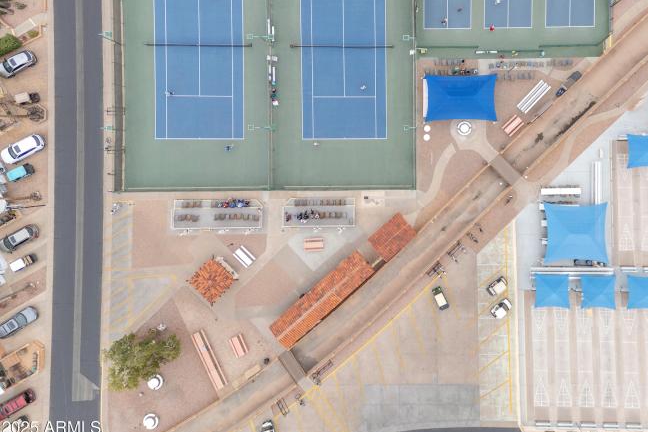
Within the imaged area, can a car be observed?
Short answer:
Yes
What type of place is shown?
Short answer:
sports ground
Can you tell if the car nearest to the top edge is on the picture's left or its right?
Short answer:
left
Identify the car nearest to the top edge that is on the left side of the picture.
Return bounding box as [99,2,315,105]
[0,47,34,77]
